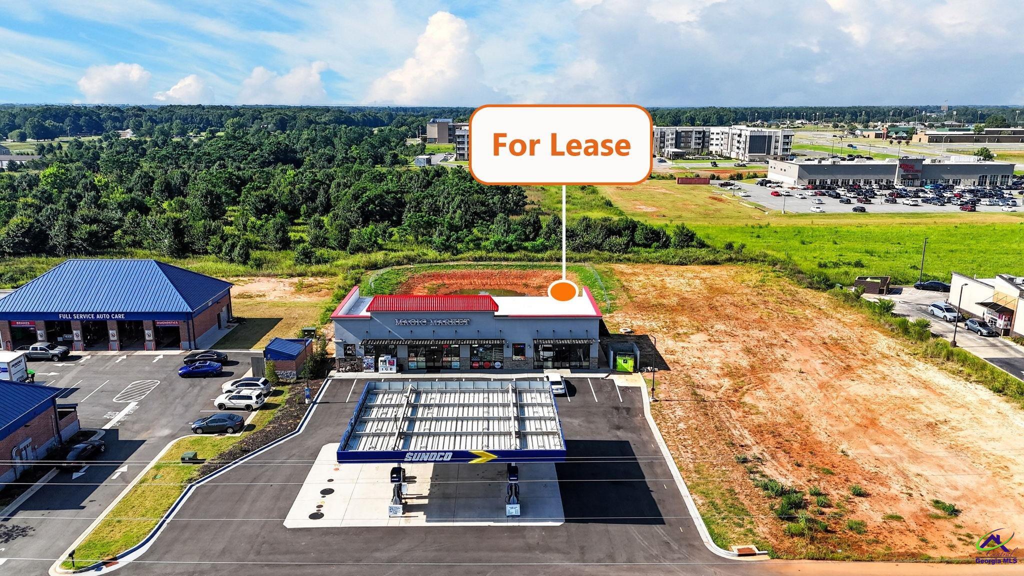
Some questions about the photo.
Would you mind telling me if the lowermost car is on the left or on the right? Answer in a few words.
left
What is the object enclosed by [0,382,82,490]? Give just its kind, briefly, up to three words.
building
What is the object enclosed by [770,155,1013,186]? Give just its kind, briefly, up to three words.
building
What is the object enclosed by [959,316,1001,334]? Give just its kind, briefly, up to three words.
car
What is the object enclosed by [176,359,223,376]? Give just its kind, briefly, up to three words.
car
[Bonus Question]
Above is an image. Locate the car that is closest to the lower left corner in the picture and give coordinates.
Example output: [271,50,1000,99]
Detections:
[46,438,111,471]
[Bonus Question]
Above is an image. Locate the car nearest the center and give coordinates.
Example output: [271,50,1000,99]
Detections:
[544,374,565,395]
